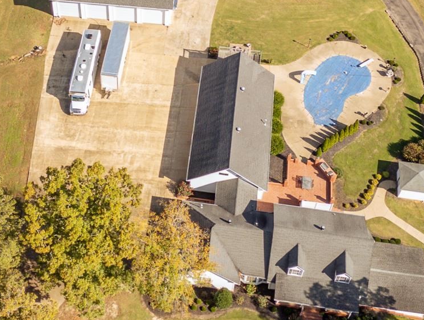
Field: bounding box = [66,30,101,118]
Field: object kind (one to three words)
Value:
camper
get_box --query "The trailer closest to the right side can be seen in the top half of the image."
[101,21,130,97]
